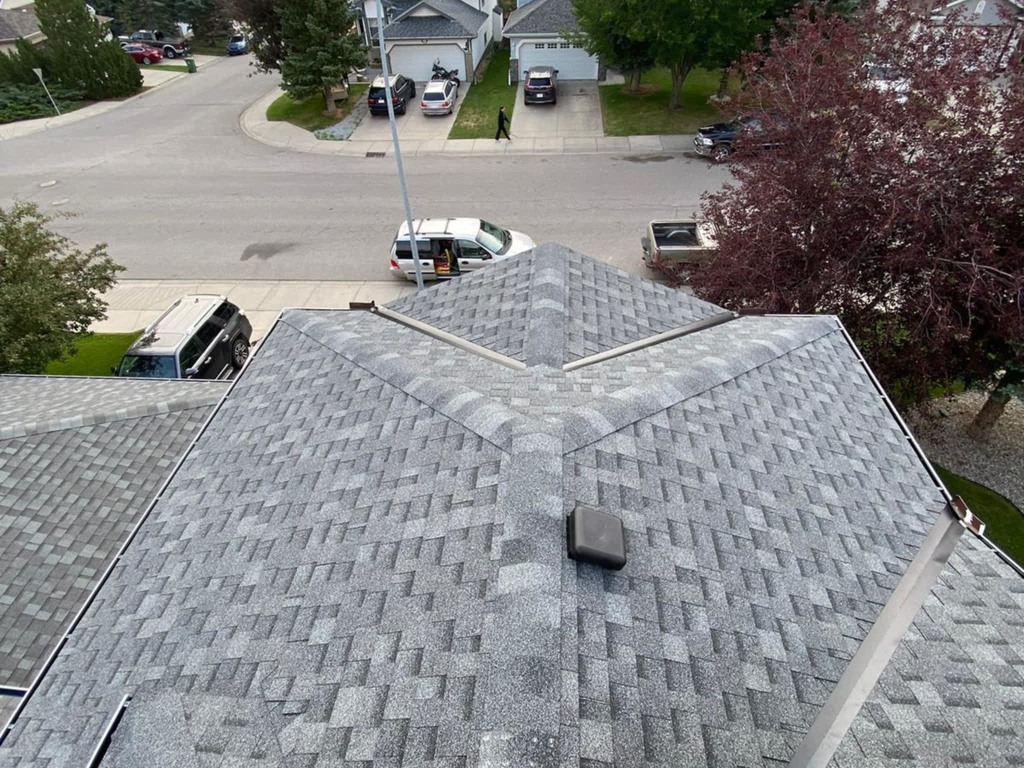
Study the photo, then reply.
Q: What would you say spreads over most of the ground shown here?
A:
buildings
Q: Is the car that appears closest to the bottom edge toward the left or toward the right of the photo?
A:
left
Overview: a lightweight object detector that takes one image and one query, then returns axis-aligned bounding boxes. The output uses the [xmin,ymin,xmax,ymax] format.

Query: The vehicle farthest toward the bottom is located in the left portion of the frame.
[112,295,255,378]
